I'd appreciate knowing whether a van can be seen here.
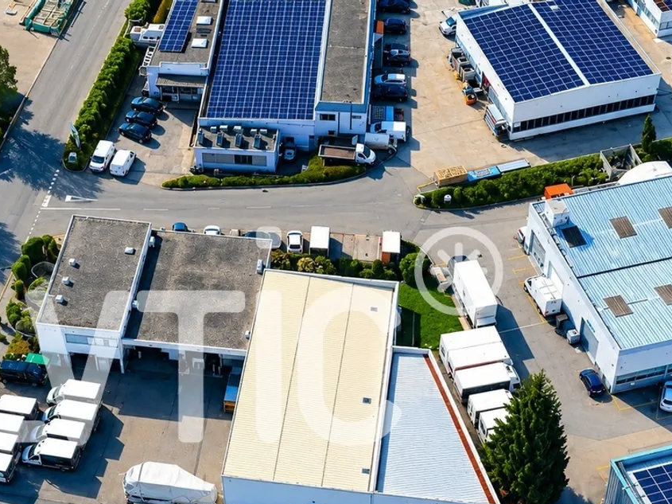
Yes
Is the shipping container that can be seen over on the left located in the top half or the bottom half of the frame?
top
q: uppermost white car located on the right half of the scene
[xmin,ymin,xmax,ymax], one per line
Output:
[435,11,456,34]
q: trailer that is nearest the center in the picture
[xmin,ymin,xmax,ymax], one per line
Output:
[310,220,330,258]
